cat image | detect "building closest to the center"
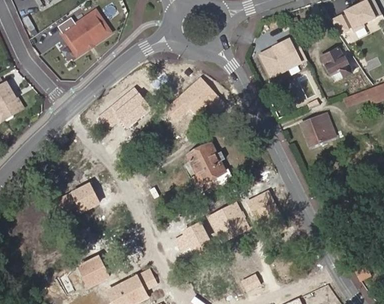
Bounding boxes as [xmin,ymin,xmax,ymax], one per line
[186,143,227,185]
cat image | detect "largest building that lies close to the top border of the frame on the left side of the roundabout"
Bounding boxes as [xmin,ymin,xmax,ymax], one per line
[58,9,113,58]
